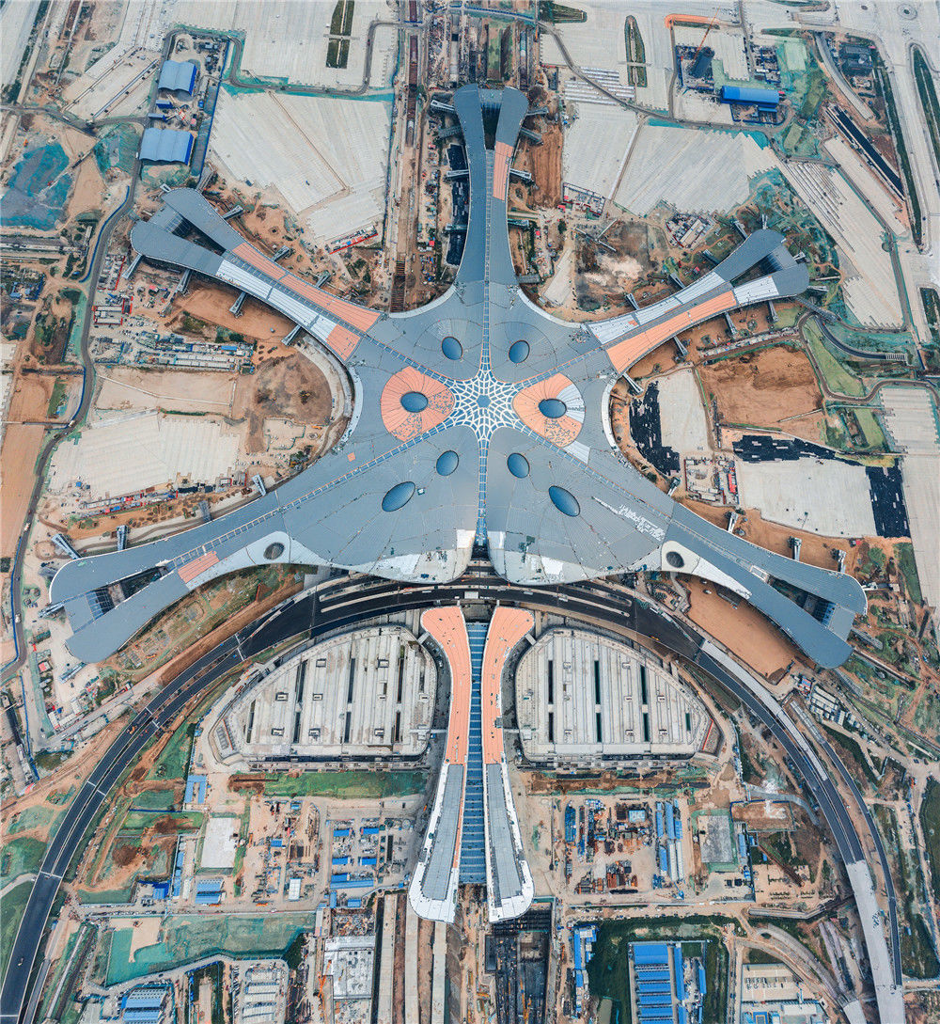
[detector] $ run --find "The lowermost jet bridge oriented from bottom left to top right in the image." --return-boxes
[57,660,87,685]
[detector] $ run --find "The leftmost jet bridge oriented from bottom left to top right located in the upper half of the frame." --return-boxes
[120,254,142,283]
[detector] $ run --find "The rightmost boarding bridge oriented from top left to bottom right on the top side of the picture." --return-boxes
[793,295,837,324]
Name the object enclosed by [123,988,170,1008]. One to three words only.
shed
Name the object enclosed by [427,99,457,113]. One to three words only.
jet bridge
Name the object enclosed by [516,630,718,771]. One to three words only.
building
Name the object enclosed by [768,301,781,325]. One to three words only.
jet bridge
